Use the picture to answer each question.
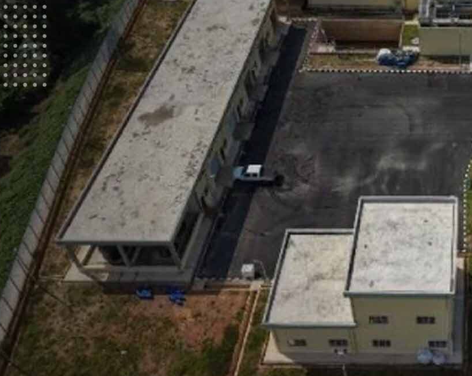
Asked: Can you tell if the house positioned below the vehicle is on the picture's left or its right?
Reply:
right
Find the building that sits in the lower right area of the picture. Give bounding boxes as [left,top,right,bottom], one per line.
[264,197,464,366]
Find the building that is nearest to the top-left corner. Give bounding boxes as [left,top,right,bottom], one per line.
[57,0,292,286]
